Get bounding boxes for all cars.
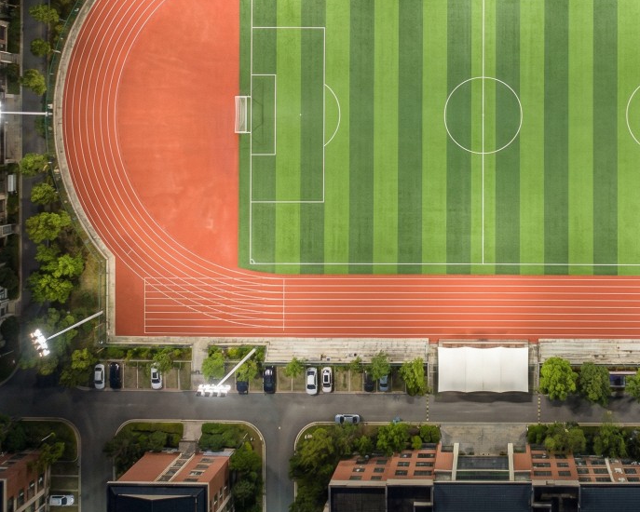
[151,365,163,390]
[335,413,360,424]
[379,371,389,393]
[364,369,375,394]
[322,368,332,392]
[93,364,106,388]
[109,362,122,388]
[51,493,74,507]
[306,368,318,394]
[237,378,248,392]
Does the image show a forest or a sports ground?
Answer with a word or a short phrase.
sports ground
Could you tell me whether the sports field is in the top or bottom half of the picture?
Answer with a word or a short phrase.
top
